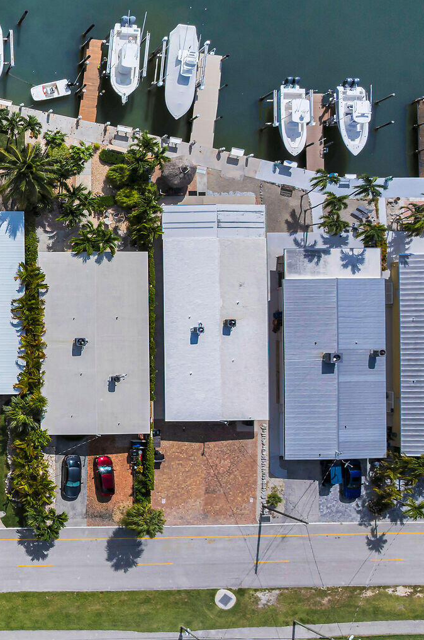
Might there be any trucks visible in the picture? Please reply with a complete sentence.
No, no truck can be seen from above.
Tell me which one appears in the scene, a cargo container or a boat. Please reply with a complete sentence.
Of the two, only a boat appears.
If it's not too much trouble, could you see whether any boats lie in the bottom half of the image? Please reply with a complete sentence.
No, there is no boat in the bottom half of the image.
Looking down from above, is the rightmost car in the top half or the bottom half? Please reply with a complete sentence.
Seen from above, the rightmost car lies in the bottom half of the view.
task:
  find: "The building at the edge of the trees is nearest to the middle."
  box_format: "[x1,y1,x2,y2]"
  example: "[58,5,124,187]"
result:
[157,205,269,422]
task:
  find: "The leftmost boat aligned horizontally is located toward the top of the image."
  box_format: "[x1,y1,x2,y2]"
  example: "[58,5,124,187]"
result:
[32,79,77,99]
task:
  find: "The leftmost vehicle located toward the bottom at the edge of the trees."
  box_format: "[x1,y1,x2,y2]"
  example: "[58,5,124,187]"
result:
[59,454,83,498]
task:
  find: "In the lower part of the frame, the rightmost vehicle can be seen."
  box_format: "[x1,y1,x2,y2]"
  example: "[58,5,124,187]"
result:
[338,460,364,499]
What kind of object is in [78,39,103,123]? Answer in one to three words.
pier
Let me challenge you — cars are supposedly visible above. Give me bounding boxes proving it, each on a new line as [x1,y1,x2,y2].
[91,454,116,496]
[59,454,83,498]
[338,460,364,499]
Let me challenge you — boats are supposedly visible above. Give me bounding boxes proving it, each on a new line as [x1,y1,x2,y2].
[32,79,77,99]
[335,78,402,156]
[164,25,202,121]
[110,18,165,105]
[278,78,339,156]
